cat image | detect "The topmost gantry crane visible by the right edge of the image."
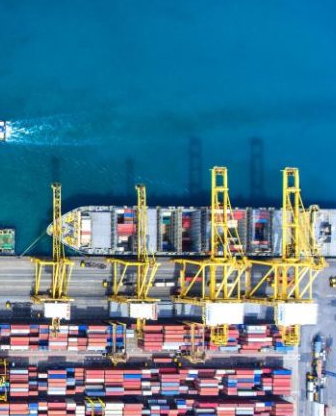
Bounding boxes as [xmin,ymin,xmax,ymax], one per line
[231,169,325,350]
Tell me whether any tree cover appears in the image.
No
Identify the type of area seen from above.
port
